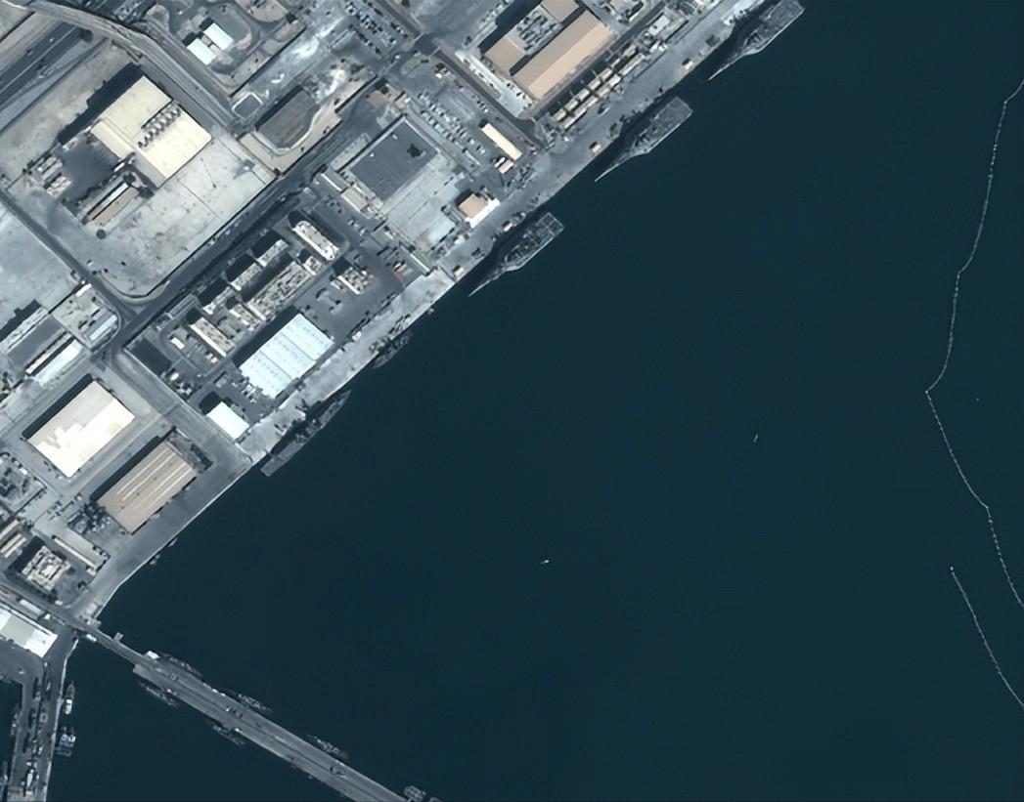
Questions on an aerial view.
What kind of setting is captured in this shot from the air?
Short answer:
port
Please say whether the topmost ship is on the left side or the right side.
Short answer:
right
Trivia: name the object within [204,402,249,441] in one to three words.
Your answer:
building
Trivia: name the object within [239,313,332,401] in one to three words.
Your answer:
building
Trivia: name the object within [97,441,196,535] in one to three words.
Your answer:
hangar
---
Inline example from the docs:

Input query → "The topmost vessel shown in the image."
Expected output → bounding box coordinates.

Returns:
[708,0,808,80]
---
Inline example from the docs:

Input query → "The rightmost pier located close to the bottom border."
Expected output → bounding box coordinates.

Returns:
[84,629,407,802]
